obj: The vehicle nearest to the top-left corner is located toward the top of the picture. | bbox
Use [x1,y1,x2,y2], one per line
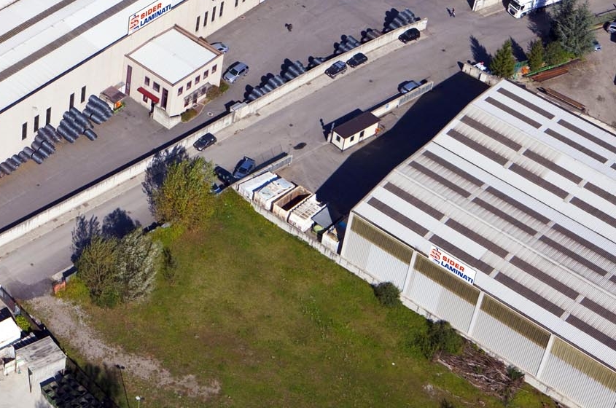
[208,36,234,57]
